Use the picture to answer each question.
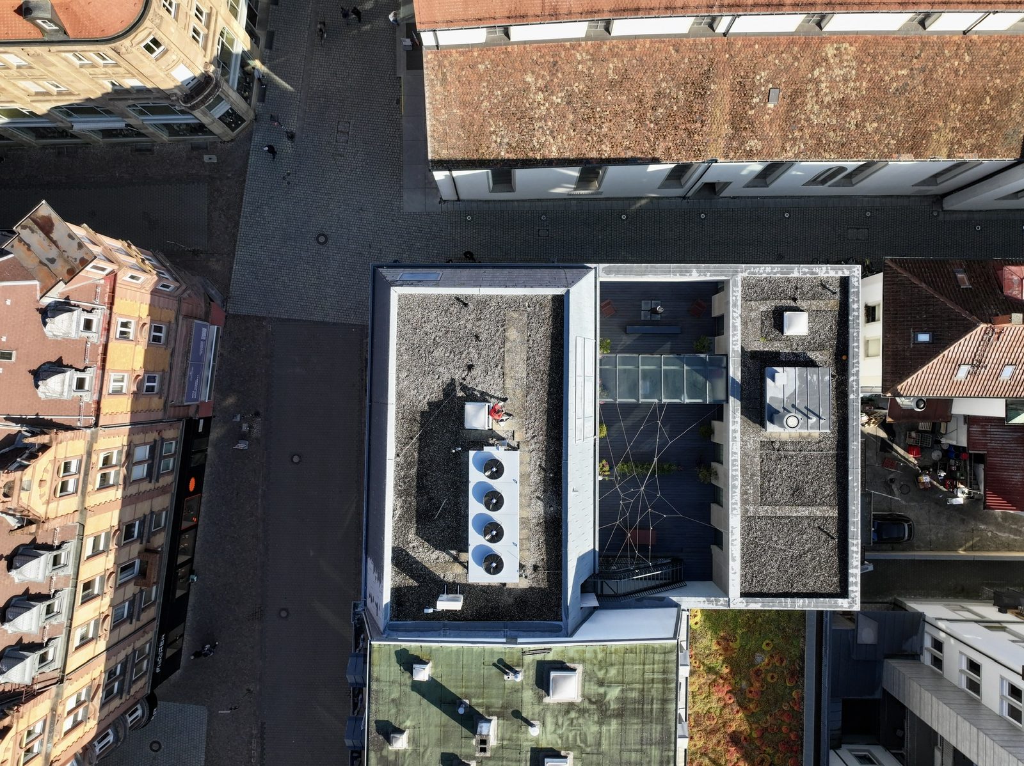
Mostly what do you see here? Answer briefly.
buildings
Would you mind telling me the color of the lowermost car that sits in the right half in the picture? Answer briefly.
black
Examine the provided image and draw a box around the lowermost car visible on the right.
[863,515,922,550]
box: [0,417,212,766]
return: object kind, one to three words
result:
house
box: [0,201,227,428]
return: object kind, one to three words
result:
house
